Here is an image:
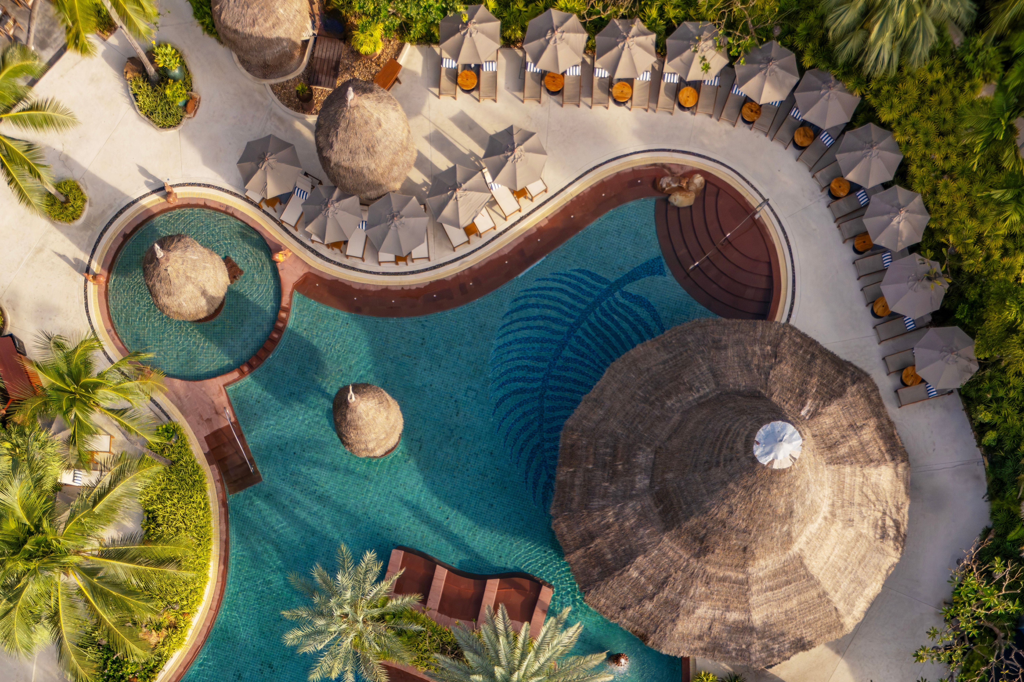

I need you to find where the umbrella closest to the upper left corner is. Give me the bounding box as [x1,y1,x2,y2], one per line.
[237,135,304,206]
